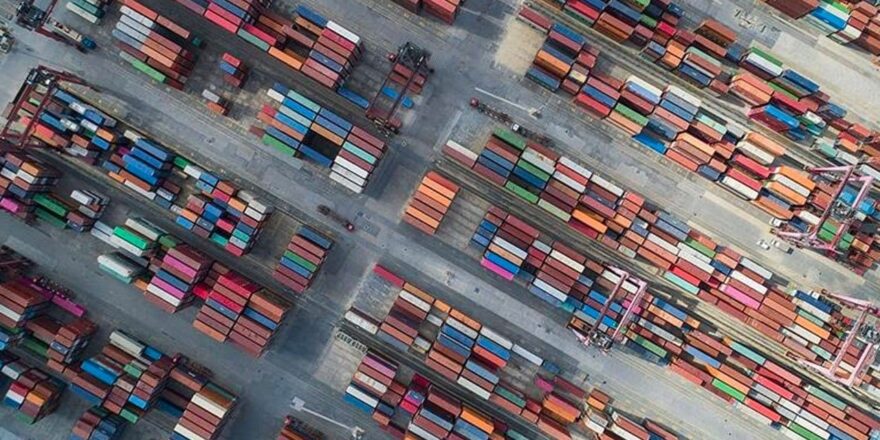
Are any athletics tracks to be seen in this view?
No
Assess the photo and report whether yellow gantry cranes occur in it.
No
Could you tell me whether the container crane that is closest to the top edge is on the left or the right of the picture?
left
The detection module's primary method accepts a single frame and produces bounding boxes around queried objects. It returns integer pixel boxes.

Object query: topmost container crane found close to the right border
[775,161,880,251]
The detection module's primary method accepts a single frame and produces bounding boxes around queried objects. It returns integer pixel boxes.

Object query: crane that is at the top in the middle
[364,47,429,138]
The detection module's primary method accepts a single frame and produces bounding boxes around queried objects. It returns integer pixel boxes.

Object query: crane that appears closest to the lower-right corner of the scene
[785,288,880,387]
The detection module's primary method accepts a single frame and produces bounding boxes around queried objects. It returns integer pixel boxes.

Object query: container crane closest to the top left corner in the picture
[14,0,85,50]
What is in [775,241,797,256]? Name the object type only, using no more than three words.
vehicle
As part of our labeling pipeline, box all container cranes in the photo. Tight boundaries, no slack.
[14,0,85,50]
[565,261,650,354]
[785,288,880,387]
[775,161,880,251]
[0,68,99,157]
[364,47,429,138]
